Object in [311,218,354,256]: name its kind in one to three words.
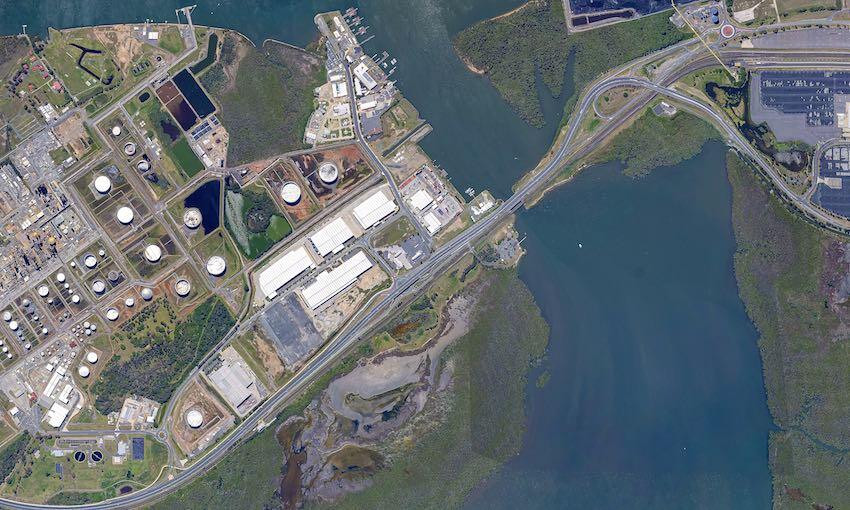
building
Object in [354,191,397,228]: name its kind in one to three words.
building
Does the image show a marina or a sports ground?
marina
